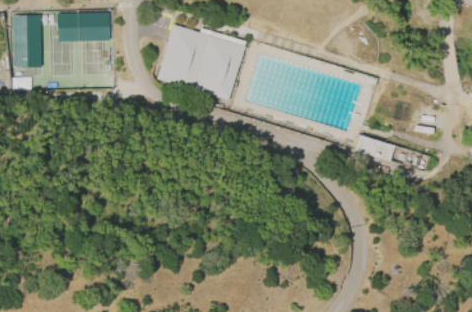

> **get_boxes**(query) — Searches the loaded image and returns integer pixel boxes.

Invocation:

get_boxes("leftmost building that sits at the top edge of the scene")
[13,14,43,67]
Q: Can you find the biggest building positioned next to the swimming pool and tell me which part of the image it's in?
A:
top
